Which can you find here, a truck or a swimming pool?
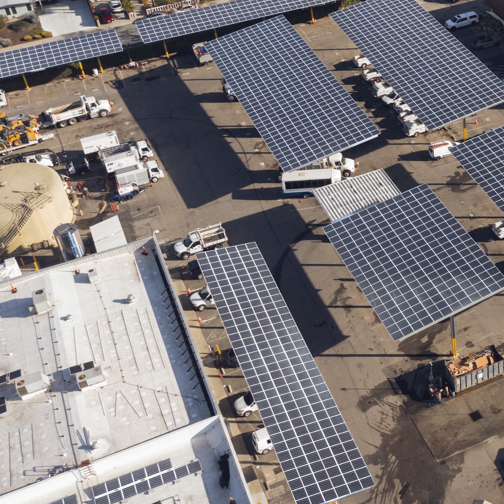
truck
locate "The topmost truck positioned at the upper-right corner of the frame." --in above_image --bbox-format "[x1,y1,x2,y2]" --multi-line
[443,7,480,30]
